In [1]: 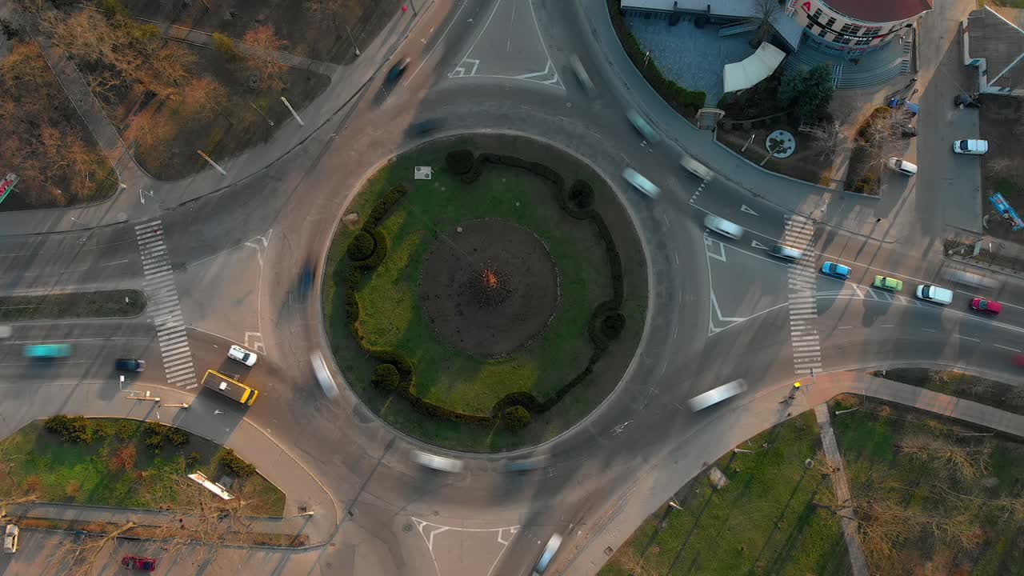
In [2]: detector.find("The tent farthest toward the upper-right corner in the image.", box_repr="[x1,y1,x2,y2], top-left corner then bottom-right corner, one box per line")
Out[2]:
[719,43,785,101]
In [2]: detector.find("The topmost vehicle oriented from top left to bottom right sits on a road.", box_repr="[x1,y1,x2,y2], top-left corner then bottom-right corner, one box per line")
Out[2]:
[569,58,593,90]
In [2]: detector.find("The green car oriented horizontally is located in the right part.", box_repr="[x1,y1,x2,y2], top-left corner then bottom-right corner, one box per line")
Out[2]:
[870,275,905,292]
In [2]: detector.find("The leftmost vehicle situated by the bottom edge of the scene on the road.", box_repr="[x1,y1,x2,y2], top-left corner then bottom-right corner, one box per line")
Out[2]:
[2,522,22,555]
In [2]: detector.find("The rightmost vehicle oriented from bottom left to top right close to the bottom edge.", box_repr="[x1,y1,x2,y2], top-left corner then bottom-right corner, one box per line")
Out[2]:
[532,536,561,575]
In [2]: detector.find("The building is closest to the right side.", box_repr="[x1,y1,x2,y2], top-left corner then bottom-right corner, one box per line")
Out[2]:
[961,5,1024,101]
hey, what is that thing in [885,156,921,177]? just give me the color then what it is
white car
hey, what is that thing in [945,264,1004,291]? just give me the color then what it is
gray vehicle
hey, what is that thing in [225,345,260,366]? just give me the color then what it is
white car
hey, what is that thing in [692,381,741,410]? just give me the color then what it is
white vehicle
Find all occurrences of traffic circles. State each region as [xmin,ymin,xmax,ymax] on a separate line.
[314,124,659,464]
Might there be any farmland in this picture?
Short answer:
No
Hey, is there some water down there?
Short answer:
No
